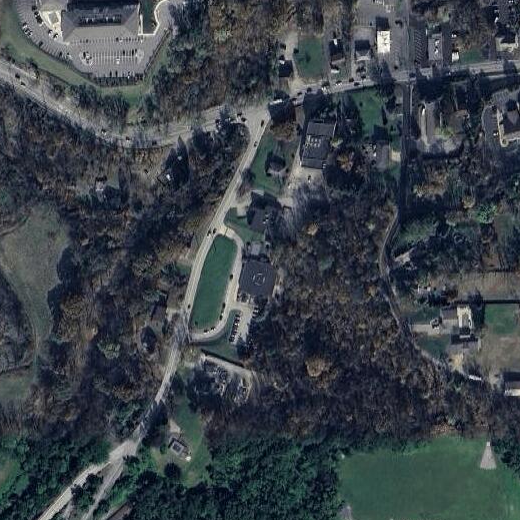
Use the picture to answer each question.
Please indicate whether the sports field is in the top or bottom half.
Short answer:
bottom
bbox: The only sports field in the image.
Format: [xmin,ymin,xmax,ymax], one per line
[335,434,520,520]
